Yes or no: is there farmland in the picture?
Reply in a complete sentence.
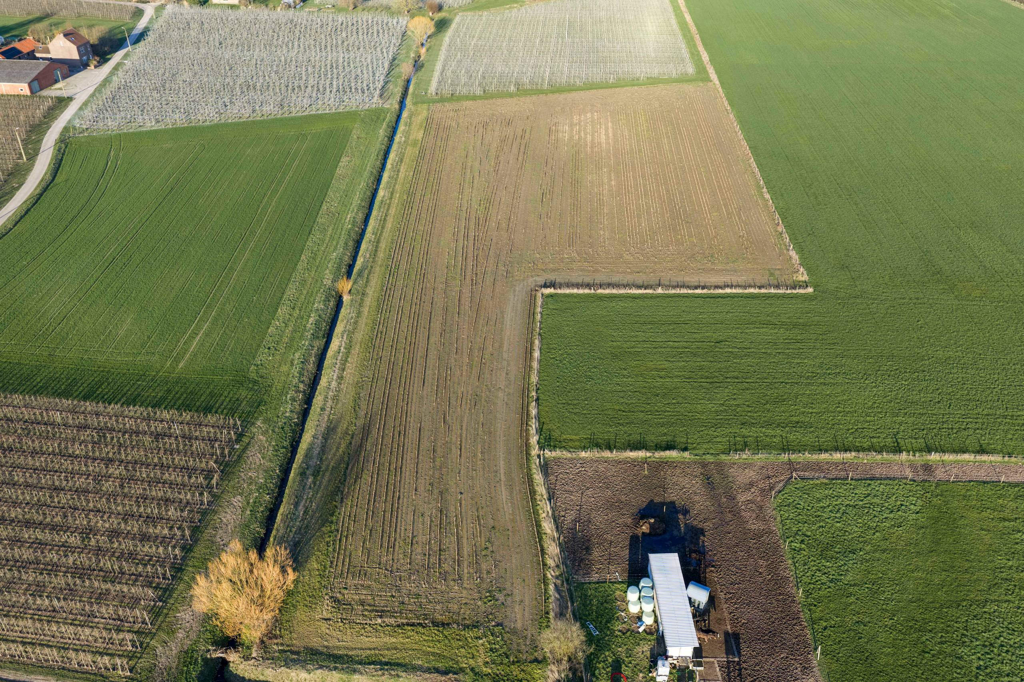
Yes, some farmland is visible.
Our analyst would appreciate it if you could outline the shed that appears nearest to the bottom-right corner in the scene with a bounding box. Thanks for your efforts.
[646,552,700,660]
